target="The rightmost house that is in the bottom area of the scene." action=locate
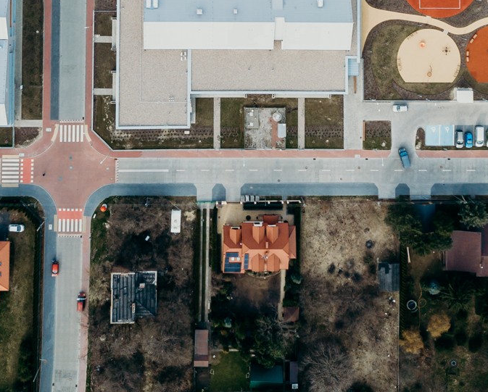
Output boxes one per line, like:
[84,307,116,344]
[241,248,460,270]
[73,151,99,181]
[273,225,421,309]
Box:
[444,215,488,276]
